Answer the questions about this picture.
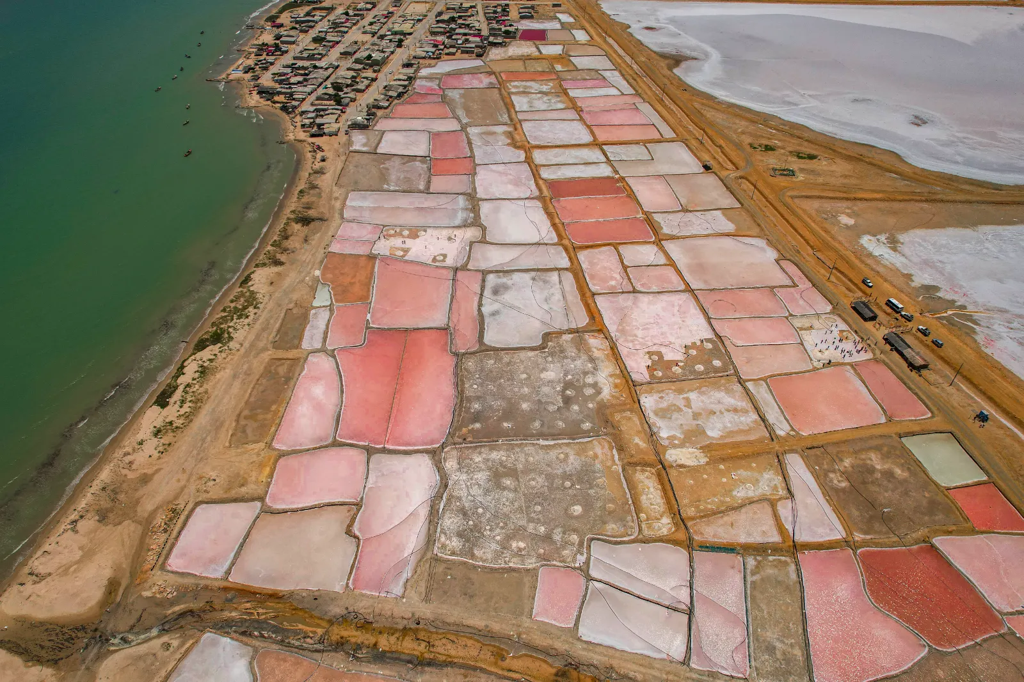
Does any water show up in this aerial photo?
Yes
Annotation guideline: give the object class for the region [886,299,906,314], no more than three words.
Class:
vehicle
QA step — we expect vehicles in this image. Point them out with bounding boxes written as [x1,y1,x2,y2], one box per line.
[917,326,933,337]
[886,299,906,314]
[900,312,915,322]
[931,339,946,349]
[862,279,874,289]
